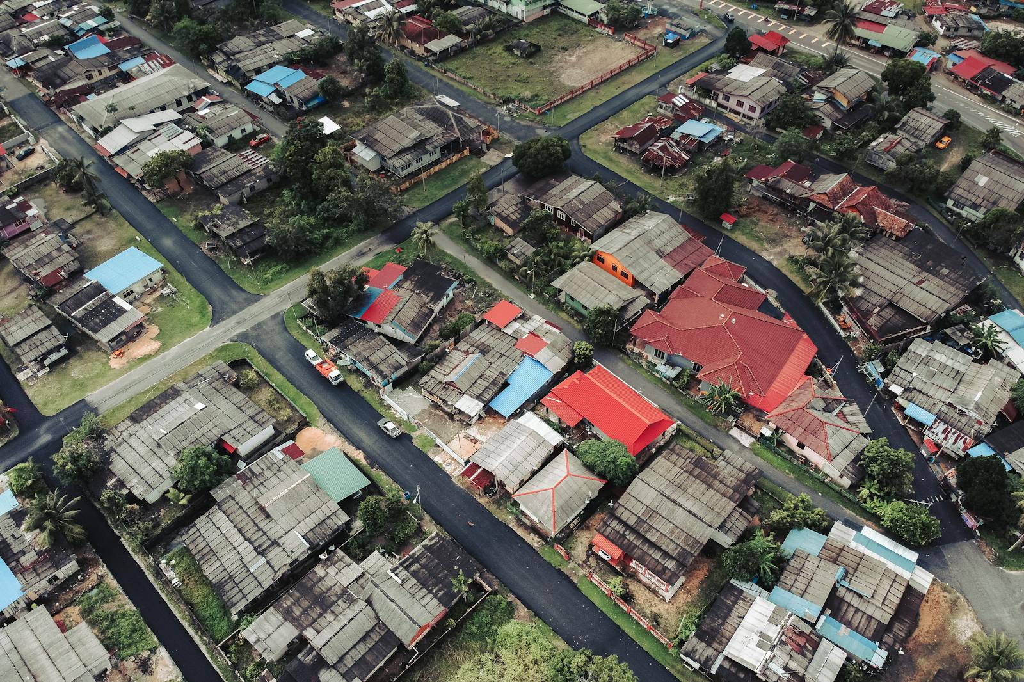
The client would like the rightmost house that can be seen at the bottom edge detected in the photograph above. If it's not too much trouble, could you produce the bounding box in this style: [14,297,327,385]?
[768,521,933,669]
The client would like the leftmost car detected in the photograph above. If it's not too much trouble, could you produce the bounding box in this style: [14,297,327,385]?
[14,145,34,157]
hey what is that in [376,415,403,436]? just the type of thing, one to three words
car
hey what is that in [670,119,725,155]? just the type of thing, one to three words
building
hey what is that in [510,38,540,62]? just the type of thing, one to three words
shed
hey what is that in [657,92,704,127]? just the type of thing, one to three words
house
